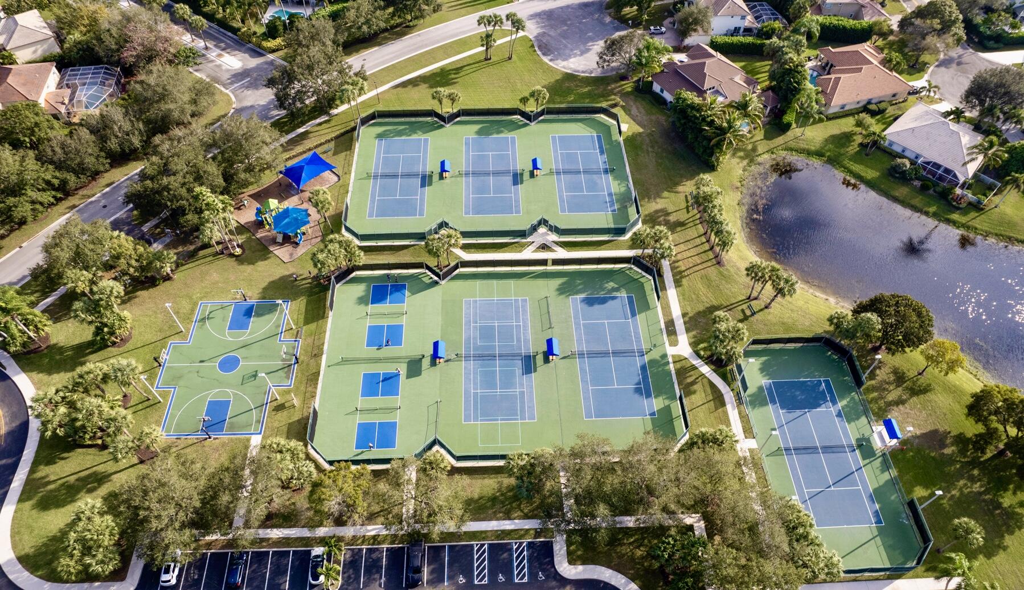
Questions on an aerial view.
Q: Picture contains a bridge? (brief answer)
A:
No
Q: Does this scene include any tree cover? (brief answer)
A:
Yes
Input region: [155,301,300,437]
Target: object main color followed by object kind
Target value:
green basketball court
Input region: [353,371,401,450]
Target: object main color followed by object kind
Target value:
blue sports court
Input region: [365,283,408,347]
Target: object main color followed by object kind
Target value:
blue sports court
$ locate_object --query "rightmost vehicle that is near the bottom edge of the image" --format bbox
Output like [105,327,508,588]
[405,539,424,586]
